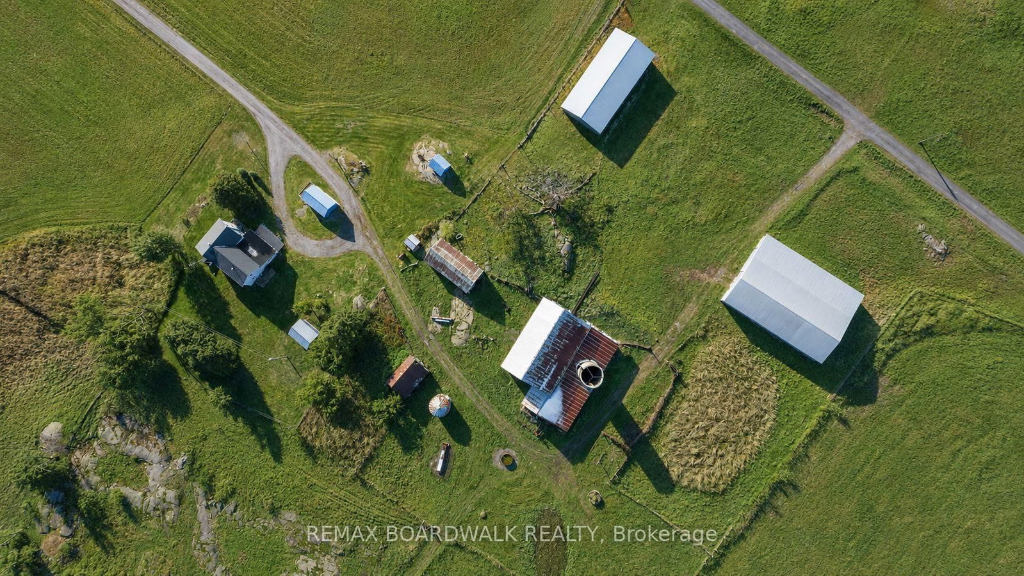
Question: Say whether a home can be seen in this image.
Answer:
Yes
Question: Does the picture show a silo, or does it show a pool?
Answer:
silo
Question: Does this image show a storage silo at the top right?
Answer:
No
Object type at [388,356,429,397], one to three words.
shed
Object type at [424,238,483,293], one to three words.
shed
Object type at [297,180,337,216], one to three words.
building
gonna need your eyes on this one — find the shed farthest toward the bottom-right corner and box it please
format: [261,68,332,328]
[718,234,863,362]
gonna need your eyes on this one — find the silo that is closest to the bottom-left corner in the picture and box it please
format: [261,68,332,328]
[428,392,452,417]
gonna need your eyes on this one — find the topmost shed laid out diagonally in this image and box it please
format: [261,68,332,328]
[562,27,655,136]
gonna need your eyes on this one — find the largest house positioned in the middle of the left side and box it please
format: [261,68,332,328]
[196,218,288,287]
